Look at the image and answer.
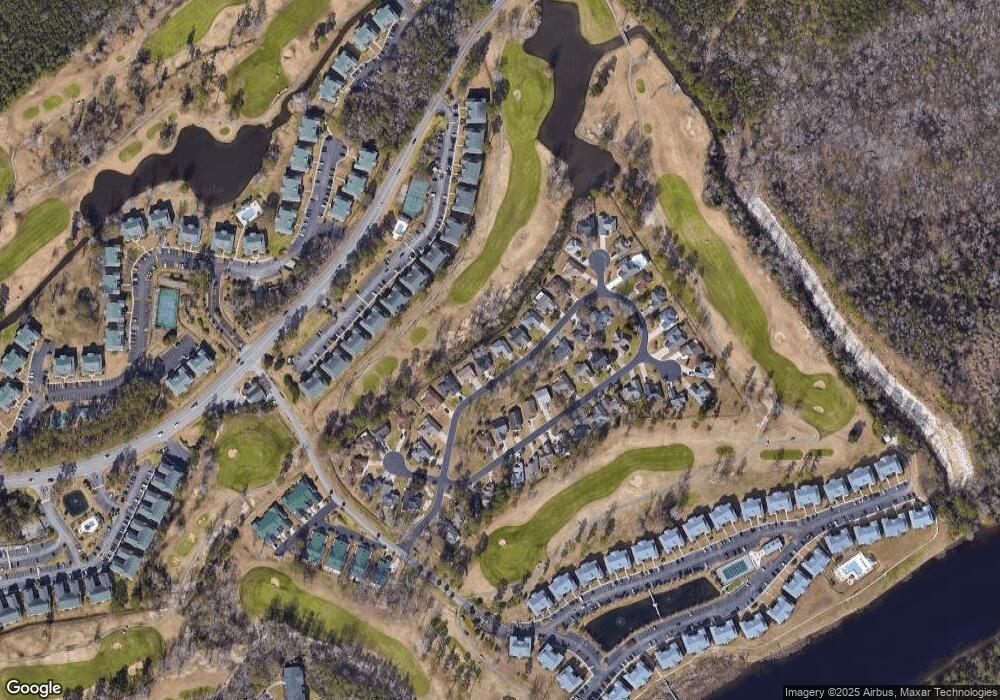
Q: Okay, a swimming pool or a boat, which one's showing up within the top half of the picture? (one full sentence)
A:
The one visible within the top half of the picture is a swimming pool.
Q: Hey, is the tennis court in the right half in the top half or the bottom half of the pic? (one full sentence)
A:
It is in the bottom half that the tennis court in the right half appears.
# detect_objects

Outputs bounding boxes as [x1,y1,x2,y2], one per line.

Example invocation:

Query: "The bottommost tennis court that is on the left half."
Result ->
[156,289,179,327]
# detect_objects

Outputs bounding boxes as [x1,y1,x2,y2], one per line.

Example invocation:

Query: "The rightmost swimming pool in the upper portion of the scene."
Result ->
[393,220,408,237]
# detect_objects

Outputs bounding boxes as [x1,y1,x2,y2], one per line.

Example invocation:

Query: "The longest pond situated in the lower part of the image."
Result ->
[586,577,720,651]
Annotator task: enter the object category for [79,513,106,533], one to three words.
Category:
swimming pool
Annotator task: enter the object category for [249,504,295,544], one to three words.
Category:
house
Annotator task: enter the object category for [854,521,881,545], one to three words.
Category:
building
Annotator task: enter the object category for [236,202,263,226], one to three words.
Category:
swimming pool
